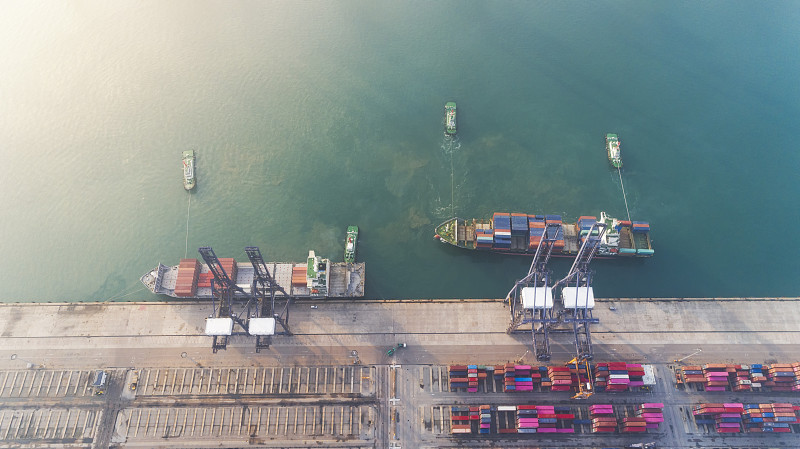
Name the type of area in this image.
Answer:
port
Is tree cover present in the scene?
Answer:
No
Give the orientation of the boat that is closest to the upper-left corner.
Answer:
from top to bottom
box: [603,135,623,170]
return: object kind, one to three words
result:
boat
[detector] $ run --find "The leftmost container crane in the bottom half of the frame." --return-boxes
[195,251,254,354]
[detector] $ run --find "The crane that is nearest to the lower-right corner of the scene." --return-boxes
[565,355,595,401]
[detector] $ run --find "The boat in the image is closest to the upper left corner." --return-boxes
[179,151,199,191]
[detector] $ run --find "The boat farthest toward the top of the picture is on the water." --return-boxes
[441,102,459,137]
